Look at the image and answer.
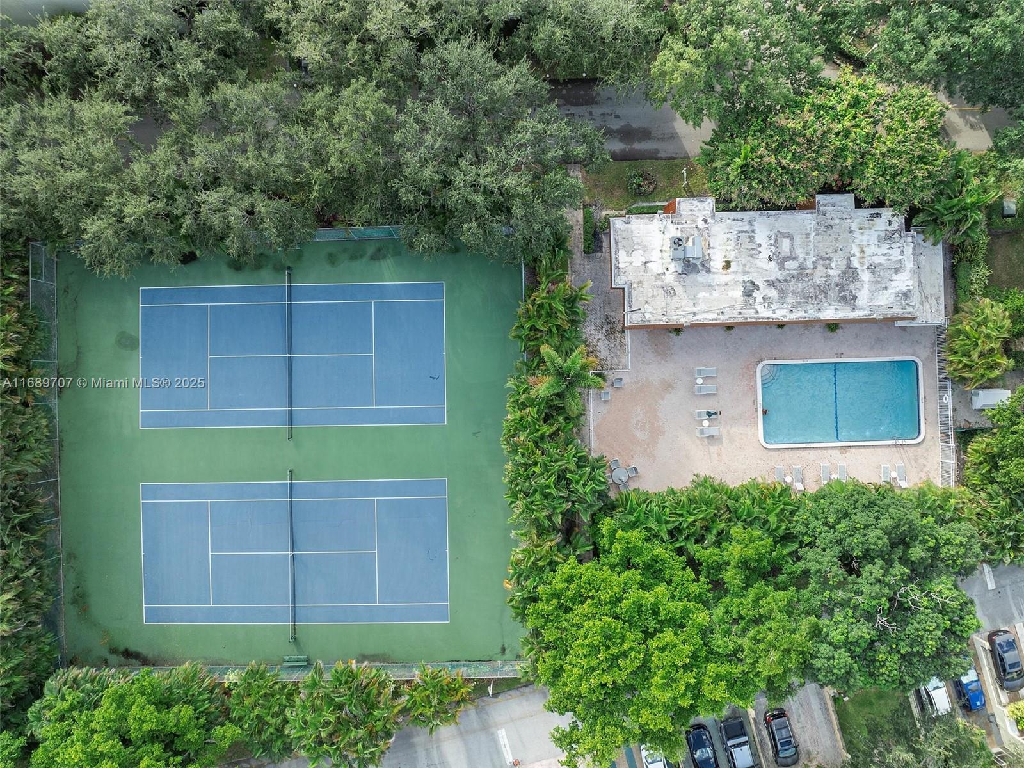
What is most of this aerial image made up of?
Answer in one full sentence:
Most of the picture is covered by trees.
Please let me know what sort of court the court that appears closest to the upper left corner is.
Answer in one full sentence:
In the photo, the court that appears closest to the upper left corner shows up as a tennis court.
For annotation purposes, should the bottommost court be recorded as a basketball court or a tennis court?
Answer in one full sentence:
Looking closely, the bottommost court is a tennis court.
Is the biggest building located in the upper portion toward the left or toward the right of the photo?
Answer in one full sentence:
The biggest building located in the upper portion appears in the right half of the scene.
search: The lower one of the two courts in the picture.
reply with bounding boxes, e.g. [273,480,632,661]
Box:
[141,479,449,625]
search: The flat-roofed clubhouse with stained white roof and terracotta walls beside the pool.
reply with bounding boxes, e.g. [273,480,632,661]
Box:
[607,194,946,329]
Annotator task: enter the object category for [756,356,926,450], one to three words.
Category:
swimming pool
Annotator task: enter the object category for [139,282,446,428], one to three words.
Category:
tennis court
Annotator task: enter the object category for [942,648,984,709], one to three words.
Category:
car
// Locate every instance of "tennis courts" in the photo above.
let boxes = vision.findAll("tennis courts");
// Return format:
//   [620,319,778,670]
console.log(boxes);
[141,479,449,625]
[139,282,446,428]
